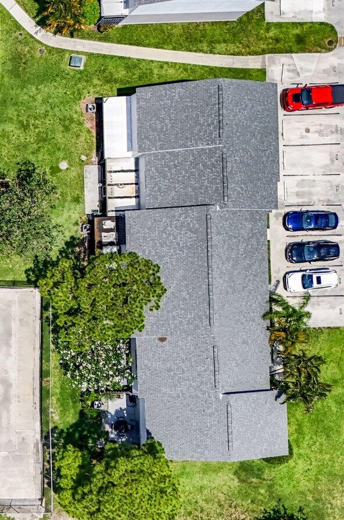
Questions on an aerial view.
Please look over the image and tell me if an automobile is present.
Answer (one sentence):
Yes, you can see an automobile in this photo.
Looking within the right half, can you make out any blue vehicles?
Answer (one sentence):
Yes, I can see a blue vehicle within the right half.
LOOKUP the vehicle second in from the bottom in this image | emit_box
[282,240,339,264]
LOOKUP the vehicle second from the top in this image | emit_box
[281,209,337,233]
